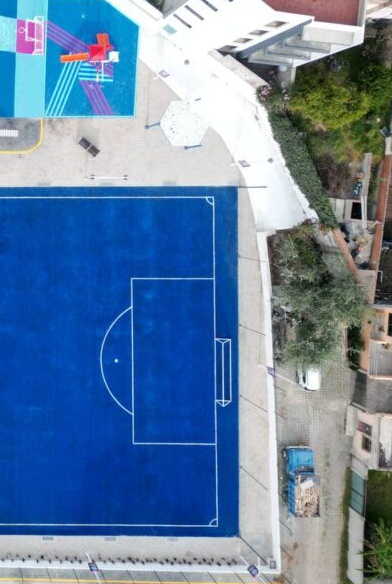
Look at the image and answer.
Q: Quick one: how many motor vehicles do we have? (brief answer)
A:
2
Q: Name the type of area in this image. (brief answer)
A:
sports ground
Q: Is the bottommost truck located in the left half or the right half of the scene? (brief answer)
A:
right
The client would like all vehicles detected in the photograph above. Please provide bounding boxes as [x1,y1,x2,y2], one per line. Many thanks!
[284,443,320,523]
[296,358,319,394]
